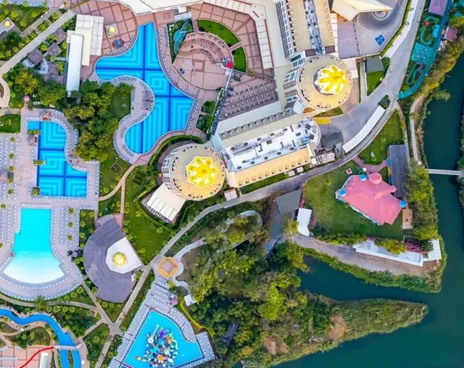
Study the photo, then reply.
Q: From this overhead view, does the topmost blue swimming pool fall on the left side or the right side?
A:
left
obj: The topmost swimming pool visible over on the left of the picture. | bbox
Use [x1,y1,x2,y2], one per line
[95,21,195,155]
